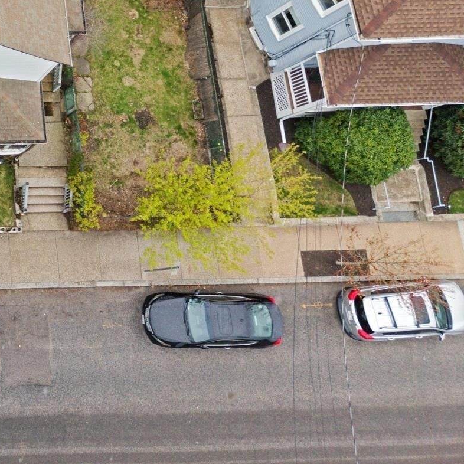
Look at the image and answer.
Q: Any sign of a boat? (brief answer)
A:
No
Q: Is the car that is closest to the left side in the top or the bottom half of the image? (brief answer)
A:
bottom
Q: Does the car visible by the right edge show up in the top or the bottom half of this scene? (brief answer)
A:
bottom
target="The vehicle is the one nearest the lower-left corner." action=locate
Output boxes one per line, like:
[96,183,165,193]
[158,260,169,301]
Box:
[142,292,287,352]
